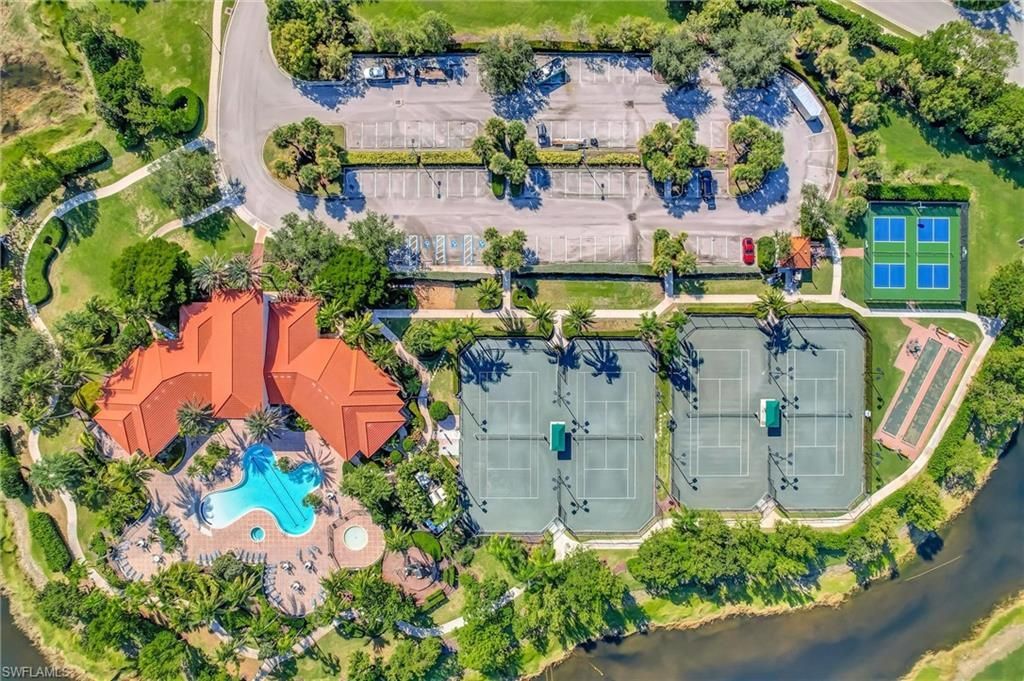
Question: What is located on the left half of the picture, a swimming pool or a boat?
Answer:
swimming pool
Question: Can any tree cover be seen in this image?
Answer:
Yes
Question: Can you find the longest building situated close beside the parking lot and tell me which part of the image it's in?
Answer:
left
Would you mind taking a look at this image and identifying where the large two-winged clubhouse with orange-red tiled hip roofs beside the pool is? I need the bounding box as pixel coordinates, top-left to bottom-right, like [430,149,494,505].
[94,291,406,460]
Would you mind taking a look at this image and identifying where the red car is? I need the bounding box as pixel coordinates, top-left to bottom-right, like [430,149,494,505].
[744,238,756,263]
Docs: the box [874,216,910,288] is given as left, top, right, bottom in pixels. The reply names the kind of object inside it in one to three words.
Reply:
sports court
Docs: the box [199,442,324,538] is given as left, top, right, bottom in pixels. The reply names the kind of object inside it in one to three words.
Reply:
swimming pool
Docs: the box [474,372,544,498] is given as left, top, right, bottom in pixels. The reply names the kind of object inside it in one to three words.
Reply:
tennis court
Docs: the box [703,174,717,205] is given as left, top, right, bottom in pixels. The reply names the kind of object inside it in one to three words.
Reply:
vehicle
